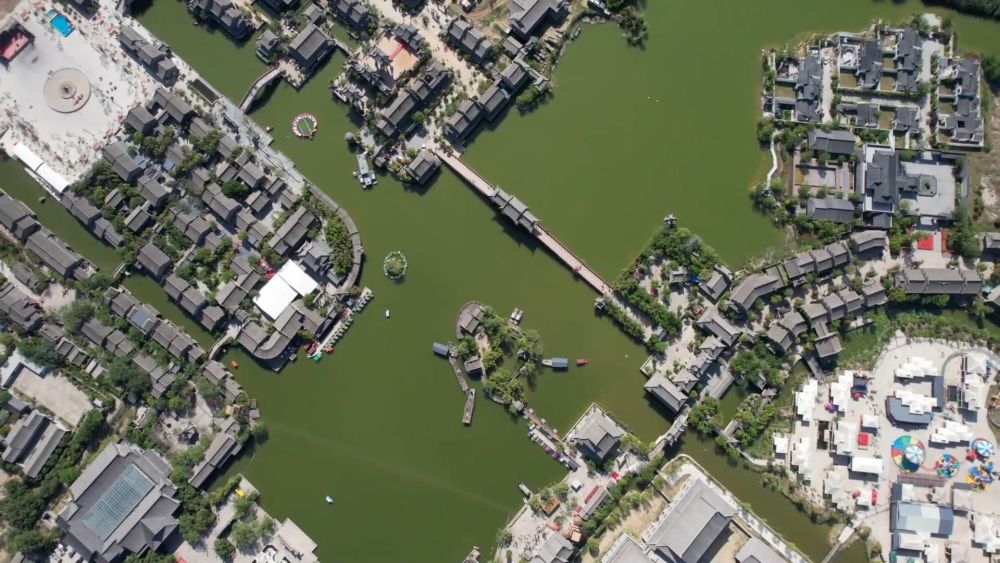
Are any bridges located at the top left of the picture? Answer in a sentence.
Yes, the scene does show a bridge at the top left of the picture.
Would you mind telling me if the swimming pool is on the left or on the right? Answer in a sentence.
It is on the left.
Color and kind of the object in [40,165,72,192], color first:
white tent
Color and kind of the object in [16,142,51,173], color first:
white tent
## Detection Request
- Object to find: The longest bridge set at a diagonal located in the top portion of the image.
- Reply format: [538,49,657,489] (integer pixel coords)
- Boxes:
[438,147,609,293]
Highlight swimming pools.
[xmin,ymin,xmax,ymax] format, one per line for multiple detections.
[48,12,76,38]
